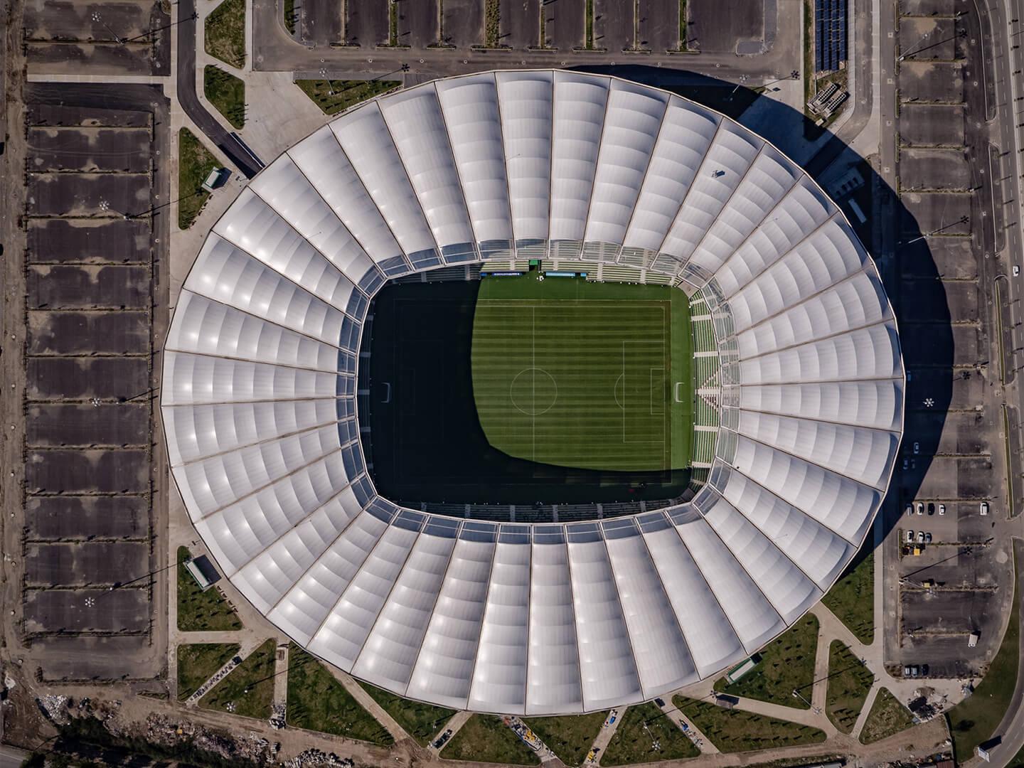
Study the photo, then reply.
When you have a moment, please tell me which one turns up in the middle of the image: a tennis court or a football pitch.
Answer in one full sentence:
The one visible in the middle of the image is a football pitch.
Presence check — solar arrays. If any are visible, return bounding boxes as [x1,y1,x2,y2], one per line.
[838,0,846,60]
[823,0,830,70]
[830,0,839,70]
[815,0,823,70]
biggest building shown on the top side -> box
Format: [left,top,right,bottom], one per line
[826,173,864,204]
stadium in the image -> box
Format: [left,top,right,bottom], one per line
[158,67,907,718]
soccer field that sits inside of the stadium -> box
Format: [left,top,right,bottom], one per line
[395,300,671,484]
